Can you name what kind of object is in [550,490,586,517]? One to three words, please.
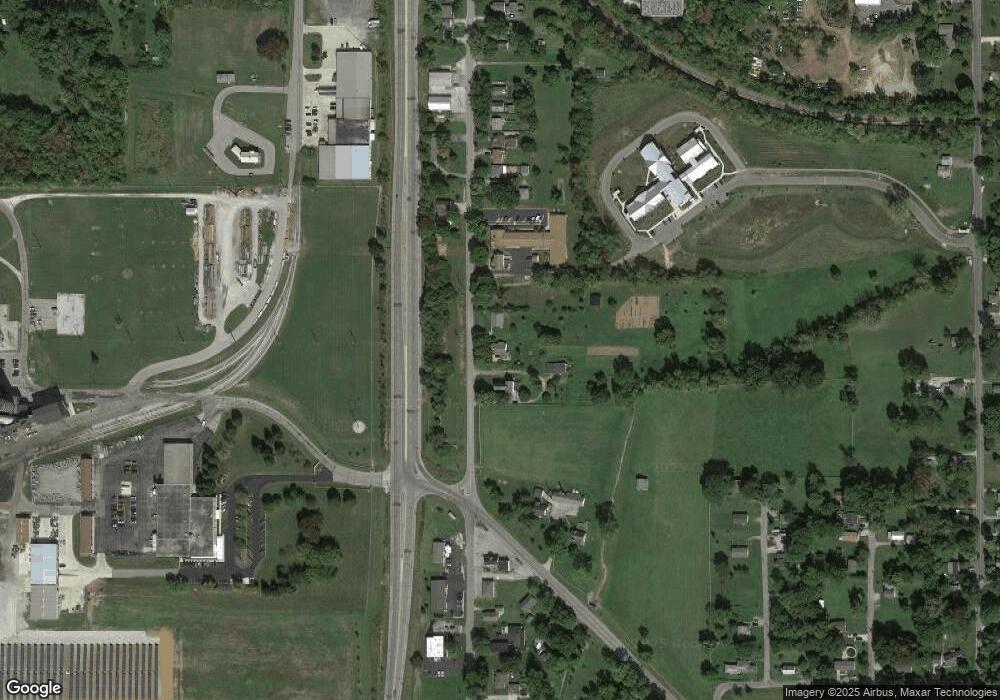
barn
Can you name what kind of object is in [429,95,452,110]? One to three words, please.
barn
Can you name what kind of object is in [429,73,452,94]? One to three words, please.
building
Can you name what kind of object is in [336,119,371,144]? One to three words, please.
building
